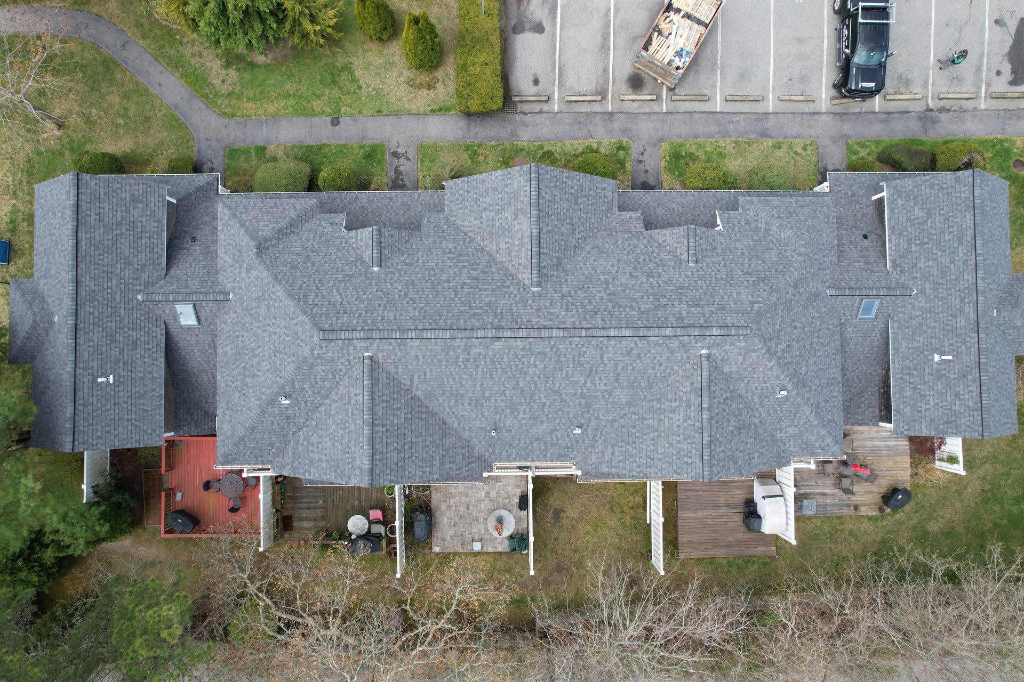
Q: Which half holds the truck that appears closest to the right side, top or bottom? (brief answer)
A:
top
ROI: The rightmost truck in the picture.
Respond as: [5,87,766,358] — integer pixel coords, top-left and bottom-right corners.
[833,0,898,103]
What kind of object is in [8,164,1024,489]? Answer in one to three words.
building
